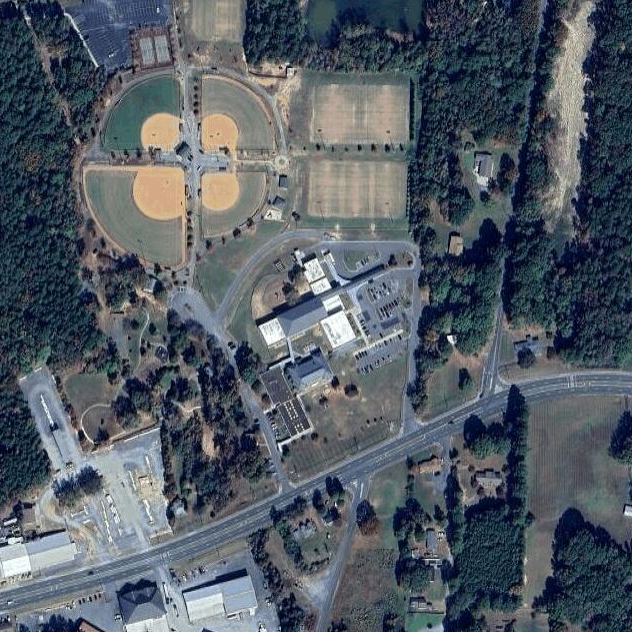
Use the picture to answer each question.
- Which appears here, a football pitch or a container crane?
football pitch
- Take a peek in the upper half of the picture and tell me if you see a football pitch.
Yes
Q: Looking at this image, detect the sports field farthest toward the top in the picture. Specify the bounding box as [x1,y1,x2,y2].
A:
[190,0,244,42]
